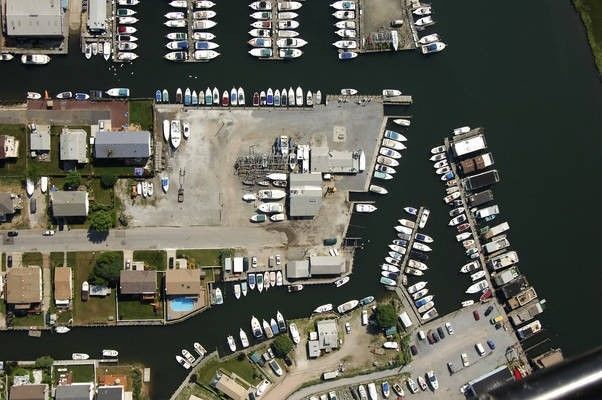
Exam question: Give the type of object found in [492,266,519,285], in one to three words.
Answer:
boat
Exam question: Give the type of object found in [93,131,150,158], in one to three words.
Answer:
house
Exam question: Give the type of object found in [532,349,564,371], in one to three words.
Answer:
boat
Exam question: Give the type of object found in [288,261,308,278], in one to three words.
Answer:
shed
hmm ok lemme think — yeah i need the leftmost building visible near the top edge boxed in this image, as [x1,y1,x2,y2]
[6,0,63,36]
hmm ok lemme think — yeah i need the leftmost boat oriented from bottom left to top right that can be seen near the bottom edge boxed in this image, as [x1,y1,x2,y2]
[255,378,273,398]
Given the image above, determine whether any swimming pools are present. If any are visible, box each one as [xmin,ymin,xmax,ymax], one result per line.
[170,296,197,312]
